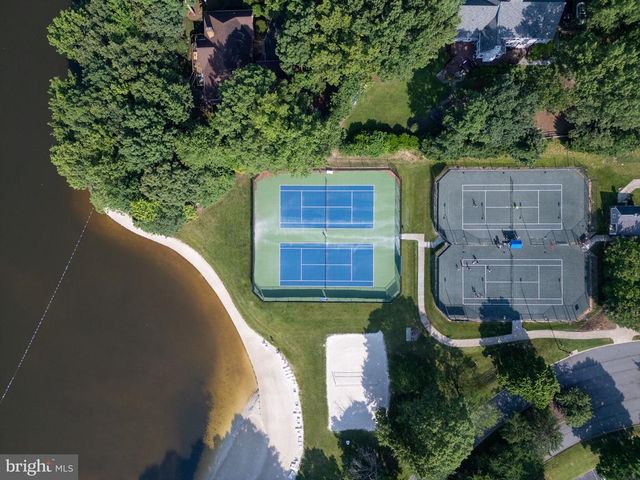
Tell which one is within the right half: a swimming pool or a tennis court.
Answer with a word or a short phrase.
tennis court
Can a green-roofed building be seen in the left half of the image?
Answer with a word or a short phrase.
No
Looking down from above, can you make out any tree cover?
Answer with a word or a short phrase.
Yes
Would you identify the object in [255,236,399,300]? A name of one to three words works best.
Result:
tennis court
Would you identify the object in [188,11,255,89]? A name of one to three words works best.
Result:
house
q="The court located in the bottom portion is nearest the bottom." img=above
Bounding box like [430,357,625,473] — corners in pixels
[325,331,389,432]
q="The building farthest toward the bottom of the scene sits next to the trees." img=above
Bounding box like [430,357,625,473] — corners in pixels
[612,206,640,234]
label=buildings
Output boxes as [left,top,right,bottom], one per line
[188,11,255,89]
[446,0,566,67]
[612,206,640,234]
